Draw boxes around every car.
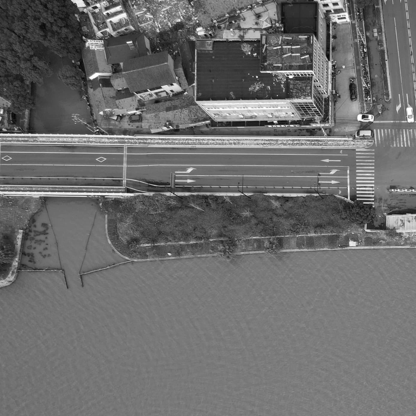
[7,111,17,127]
[358,113,375,122]
[349,84,357,101]
[406,106,414,124]
[356,130,374,139]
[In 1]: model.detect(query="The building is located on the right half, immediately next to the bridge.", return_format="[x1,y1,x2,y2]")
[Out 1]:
[196,2,330,119]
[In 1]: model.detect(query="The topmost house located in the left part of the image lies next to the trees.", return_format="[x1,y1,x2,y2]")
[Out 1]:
[74,0,139,38]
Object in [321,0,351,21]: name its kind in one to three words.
building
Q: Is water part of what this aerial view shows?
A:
Yes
